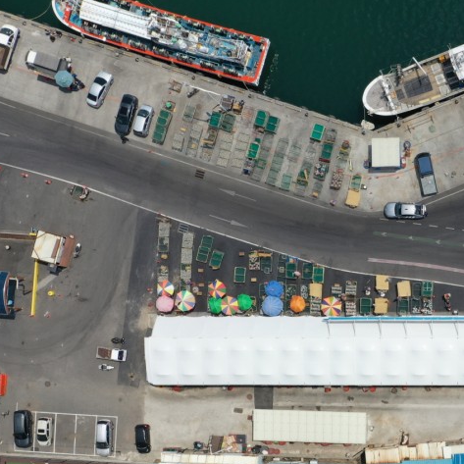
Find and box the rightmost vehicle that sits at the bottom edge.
[133,423,152,452]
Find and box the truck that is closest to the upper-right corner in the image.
[414,152,437,197]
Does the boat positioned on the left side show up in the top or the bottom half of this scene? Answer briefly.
top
